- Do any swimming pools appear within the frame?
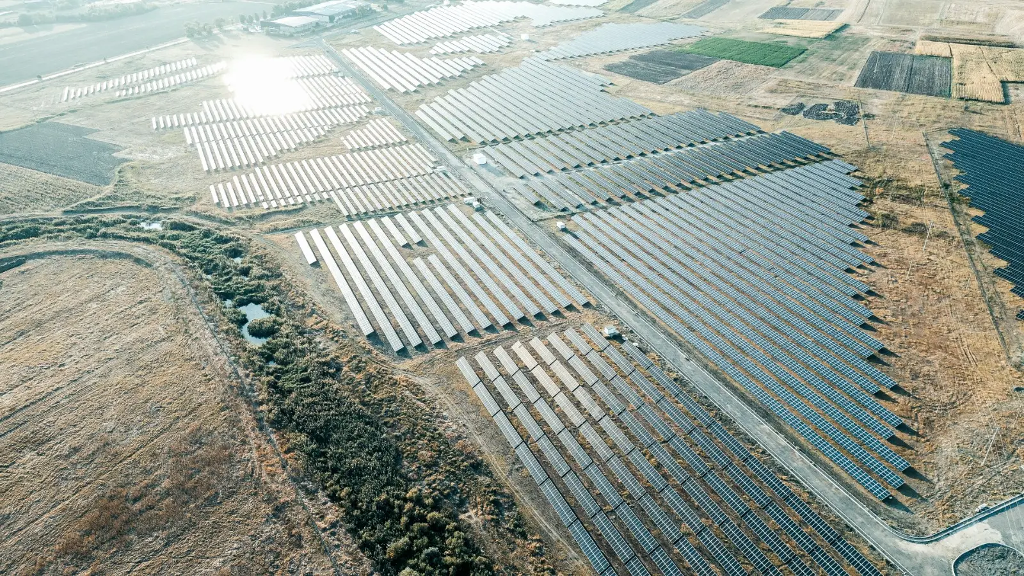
No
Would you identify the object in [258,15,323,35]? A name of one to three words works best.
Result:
building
